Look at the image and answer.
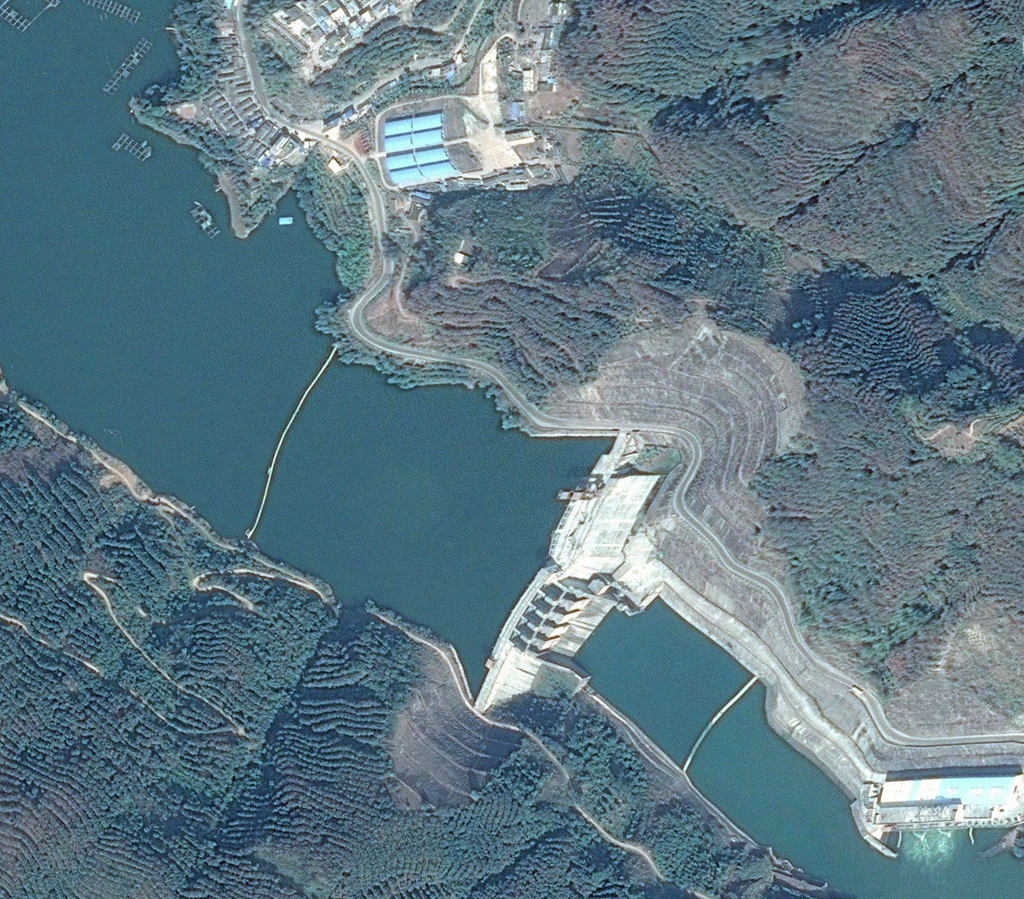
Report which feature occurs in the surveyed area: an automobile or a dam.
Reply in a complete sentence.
It is a dam that can be seen here.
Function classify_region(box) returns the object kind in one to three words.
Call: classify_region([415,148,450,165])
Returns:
building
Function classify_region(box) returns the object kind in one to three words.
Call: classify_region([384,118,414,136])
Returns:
building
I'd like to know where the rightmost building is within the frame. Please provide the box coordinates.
[873,775,1024,831]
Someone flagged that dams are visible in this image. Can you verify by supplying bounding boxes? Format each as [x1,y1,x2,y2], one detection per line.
[475,433,662,712]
